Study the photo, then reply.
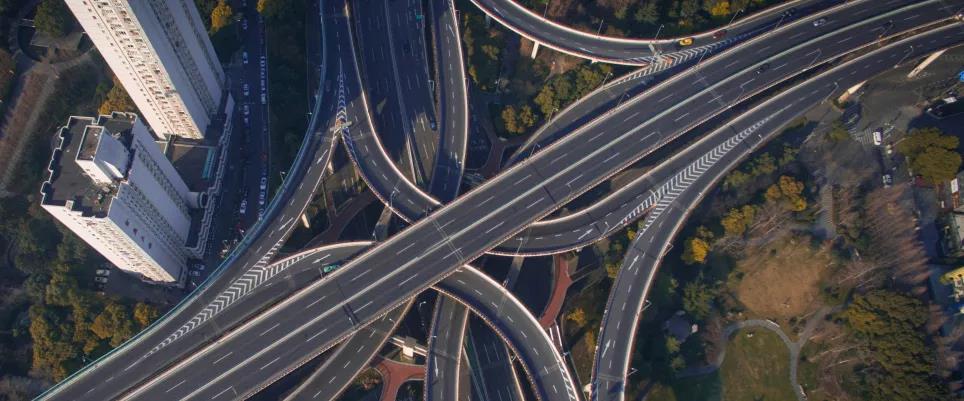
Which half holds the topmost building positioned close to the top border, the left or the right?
left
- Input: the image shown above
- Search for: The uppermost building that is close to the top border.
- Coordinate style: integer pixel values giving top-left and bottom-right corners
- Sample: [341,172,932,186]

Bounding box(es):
[60,0,230,143]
